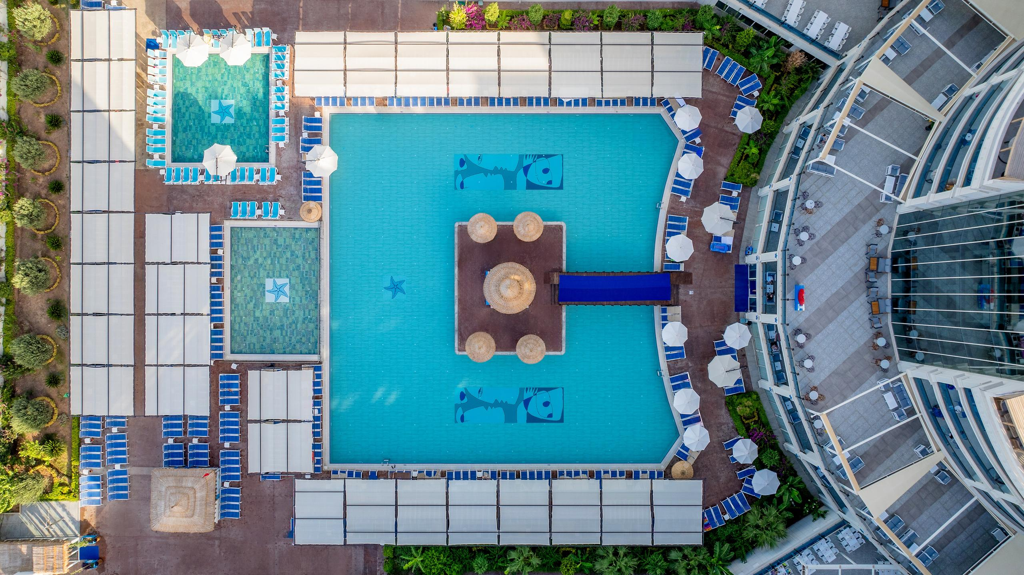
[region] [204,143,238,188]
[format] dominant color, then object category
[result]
white umbrella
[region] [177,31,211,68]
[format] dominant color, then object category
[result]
white umbrella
